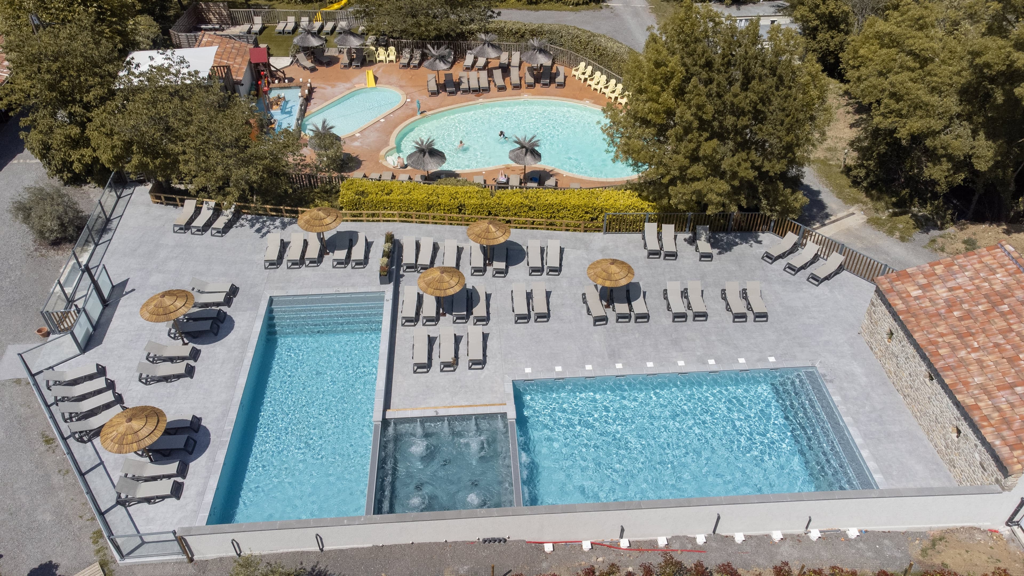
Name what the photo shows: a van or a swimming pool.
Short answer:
swimming pool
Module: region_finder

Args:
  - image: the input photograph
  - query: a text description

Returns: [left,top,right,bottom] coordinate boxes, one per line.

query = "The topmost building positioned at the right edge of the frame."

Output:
[861,237,1024,527]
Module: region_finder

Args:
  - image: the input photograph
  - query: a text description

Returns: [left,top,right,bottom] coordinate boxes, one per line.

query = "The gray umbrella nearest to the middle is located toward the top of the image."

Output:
[507,136,543,185]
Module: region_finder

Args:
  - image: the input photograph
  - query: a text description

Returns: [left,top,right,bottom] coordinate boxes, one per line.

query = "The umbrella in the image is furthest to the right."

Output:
[586,261,636,310]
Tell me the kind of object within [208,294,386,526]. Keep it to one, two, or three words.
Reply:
swimming pool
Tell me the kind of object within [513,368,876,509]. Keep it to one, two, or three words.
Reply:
swimming pool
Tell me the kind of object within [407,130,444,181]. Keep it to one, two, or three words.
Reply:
umbrella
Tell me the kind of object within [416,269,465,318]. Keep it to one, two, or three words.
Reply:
umbrella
